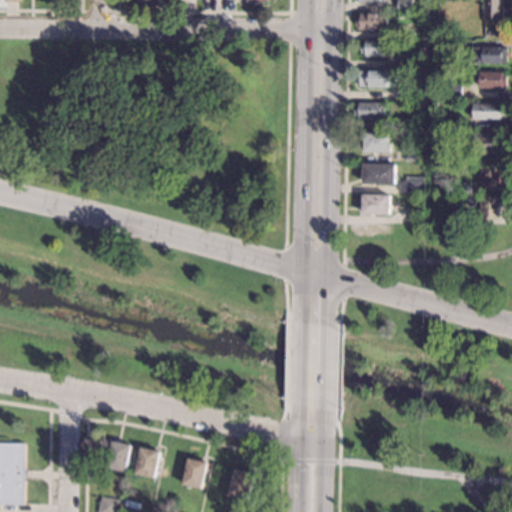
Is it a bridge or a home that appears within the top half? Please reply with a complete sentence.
You can see a home within the top half.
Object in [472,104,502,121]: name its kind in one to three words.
house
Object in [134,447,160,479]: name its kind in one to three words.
house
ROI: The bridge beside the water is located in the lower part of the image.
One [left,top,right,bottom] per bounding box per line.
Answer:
[284,300,346,416]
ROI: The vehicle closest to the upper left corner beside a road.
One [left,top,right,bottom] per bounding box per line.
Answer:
[99,4,111,20]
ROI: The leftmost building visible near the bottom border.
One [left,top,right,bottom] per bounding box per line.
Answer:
[0,442,30,505]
